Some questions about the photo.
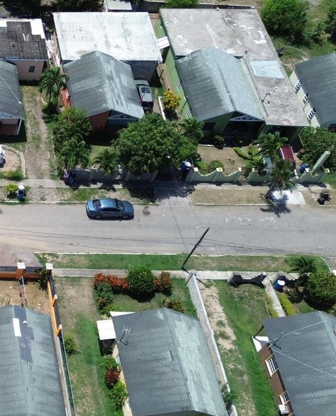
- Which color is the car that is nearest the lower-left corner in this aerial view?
blue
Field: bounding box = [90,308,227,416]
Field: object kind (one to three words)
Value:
house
